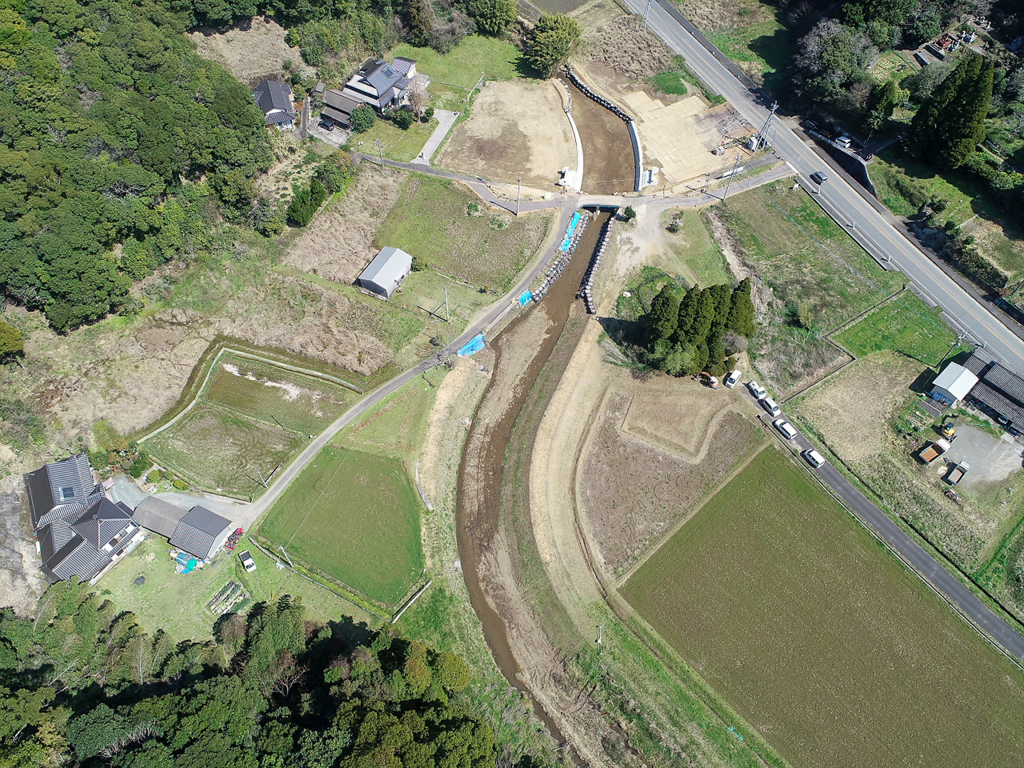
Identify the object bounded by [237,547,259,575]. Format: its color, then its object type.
white truck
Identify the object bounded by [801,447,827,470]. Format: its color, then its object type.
white vehicle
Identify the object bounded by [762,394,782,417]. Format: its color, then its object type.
white vehicle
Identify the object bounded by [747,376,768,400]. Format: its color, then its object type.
white truck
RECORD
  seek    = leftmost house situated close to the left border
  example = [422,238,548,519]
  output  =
[23,451,145,584]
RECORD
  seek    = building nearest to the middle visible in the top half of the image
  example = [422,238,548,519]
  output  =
[358,247,412,299]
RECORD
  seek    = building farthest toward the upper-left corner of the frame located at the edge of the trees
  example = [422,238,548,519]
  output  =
[256,76,297,132]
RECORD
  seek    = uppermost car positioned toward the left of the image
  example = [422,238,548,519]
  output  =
[317,120,335,132]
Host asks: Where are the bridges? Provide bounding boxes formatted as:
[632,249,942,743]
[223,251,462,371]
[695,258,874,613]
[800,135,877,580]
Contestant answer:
[577,194,631,218]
